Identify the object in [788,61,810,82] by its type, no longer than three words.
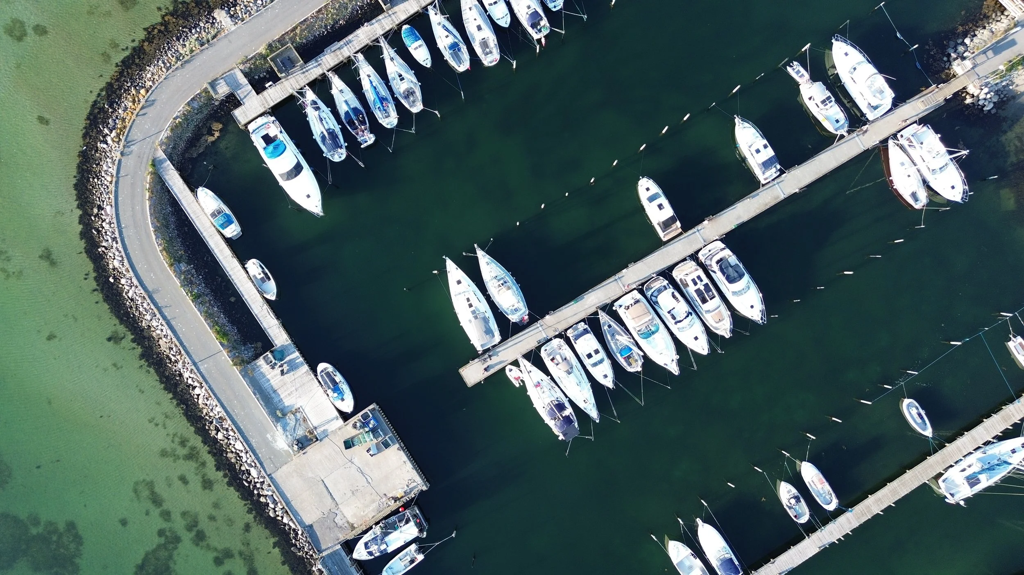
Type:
boat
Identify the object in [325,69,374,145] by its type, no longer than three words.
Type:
boat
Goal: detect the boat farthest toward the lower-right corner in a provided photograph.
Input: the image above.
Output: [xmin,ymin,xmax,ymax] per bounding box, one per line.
[933,438,1024,508]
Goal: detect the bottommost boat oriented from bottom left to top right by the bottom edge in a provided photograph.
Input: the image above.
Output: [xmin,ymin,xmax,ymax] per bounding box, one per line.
[378,544,424,575]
